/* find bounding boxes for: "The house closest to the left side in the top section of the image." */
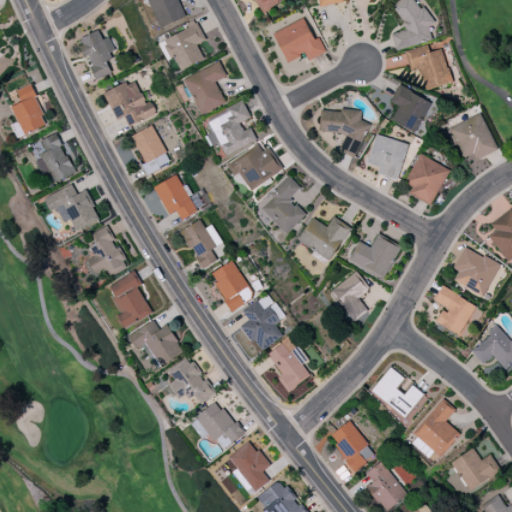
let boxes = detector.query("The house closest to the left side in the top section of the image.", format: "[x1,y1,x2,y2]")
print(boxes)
[10,84,48,138]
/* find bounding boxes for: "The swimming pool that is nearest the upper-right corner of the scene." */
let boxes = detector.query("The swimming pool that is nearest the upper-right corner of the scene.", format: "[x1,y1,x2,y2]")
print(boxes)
[354,98,376,121]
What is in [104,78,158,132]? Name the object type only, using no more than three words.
house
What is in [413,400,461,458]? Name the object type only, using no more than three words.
house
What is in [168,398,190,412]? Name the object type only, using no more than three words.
swimming pool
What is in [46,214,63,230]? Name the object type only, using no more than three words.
swimming pool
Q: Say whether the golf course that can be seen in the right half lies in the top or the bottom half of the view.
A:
top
